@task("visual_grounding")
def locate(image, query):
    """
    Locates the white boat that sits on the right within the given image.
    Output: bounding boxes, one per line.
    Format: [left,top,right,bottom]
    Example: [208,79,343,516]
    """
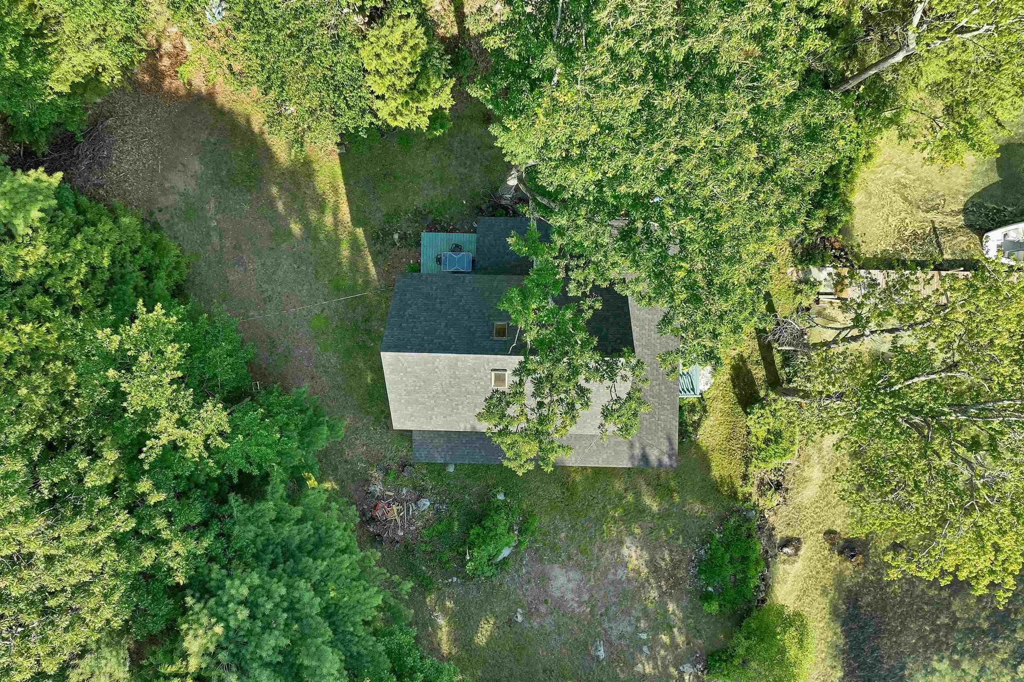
[988,218,1024,262]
